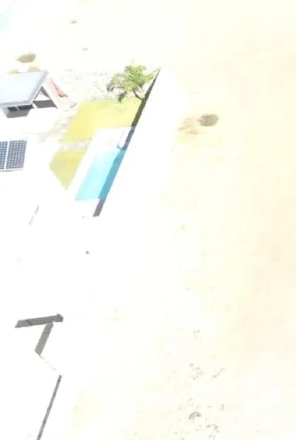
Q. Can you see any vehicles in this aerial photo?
No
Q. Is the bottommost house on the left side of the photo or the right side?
left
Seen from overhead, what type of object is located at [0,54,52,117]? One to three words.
building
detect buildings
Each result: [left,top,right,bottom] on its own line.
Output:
[0,54,52,117]
[0,131,85,332]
